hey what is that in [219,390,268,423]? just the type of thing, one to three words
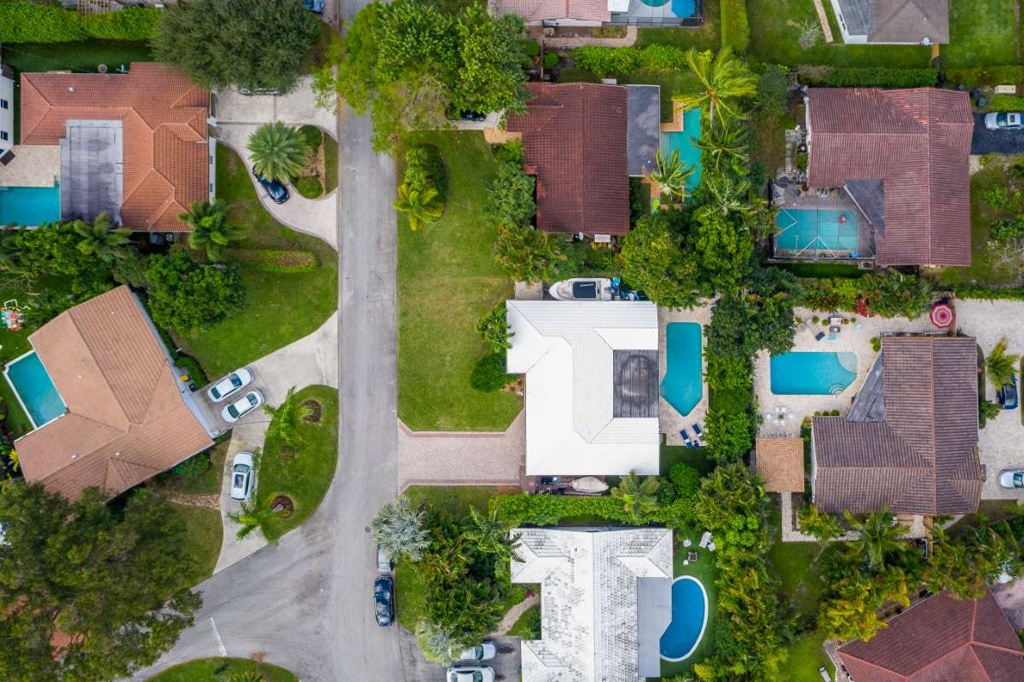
car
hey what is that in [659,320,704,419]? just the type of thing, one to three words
swimming pool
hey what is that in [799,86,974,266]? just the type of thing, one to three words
house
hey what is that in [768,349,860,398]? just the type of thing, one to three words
swimming pool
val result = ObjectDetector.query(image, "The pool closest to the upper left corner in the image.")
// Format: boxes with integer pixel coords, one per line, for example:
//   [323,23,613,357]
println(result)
[0,179,59,227]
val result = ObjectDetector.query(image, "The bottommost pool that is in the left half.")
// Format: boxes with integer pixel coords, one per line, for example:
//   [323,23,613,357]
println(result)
[3,350,66,428]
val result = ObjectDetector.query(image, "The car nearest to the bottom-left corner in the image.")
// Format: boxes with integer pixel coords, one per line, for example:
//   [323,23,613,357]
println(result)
[229,451,255,500]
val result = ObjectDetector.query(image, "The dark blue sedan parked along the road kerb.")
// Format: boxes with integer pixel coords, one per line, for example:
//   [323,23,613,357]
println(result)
[372,575,395,627]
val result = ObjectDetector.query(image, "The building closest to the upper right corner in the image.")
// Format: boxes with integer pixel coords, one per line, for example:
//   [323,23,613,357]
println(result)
[833,0,950,48]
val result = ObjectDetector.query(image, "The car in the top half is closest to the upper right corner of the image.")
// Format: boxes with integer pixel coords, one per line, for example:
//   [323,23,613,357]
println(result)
[981,109,1024,133]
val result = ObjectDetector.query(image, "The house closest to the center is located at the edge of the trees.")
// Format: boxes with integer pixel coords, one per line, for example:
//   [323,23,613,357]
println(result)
[505,299,660,477]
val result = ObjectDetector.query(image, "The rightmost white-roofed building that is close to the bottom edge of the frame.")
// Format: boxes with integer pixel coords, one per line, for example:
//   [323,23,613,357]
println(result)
[509,526,673,682]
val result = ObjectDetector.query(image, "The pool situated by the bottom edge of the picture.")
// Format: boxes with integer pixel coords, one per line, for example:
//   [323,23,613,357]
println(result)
[660,574,710,663]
